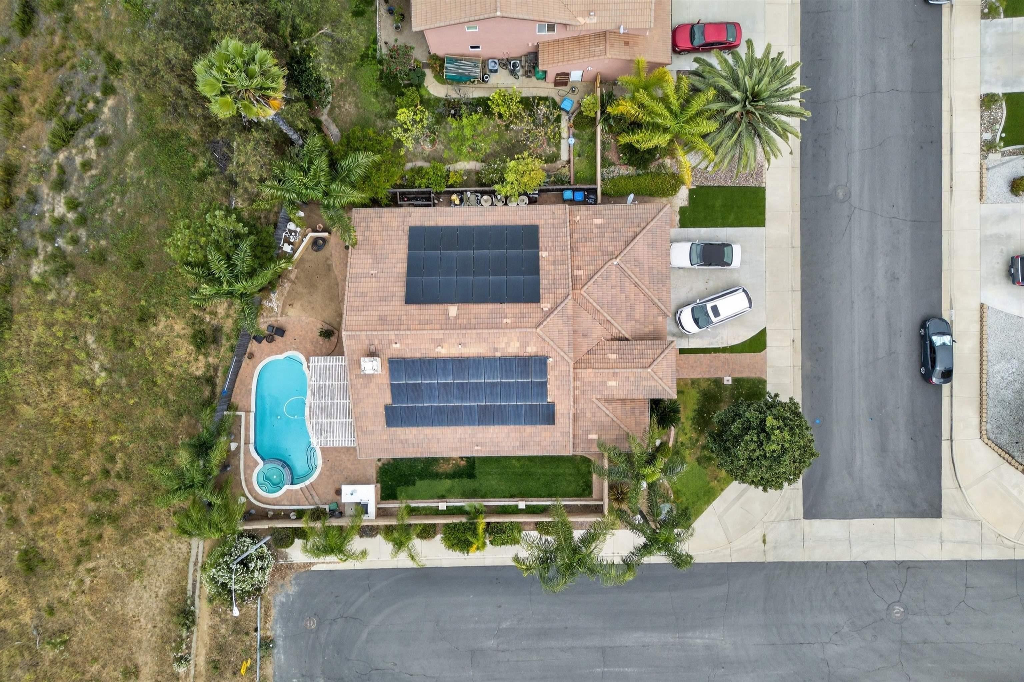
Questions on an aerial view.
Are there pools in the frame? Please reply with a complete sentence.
Yes, there's a pool down there.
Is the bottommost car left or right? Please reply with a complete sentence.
You can find the bottommost car on the right side of the picture.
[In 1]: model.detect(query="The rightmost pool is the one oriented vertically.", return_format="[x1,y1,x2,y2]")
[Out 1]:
[249,352,322,498]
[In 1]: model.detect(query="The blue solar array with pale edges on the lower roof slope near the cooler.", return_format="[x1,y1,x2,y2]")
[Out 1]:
[385,357,555,427]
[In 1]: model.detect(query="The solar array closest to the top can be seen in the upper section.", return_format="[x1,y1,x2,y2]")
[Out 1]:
[405,225,539,304]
